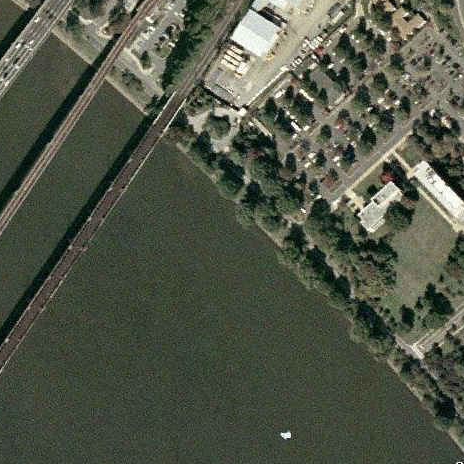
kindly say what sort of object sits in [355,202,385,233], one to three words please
building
